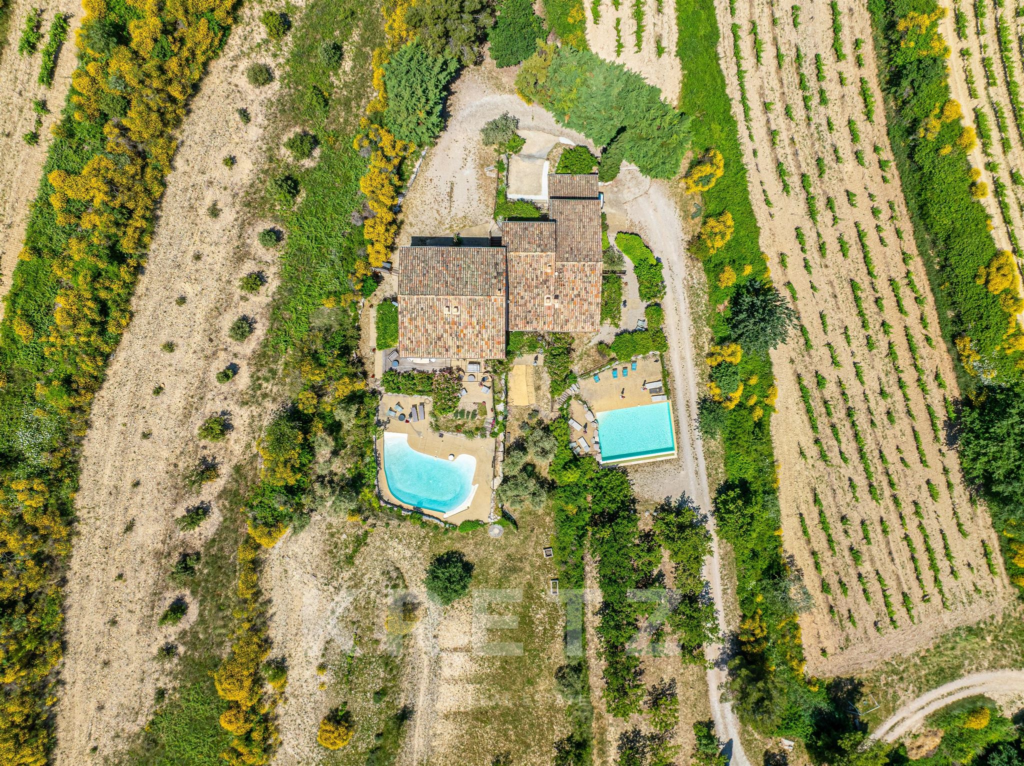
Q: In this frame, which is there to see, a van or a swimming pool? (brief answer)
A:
swimming pool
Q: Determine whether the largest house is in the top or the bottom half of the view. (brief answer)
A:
top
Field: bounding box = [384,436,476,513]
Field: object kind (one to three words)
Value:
swimming pool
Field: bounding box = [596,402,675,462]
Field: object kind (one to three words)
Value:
swimming pool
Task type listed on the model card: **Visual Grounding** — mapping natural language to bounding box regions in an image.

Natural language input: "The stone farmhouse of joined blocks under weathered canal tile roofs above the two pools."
[396,173,603,359]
